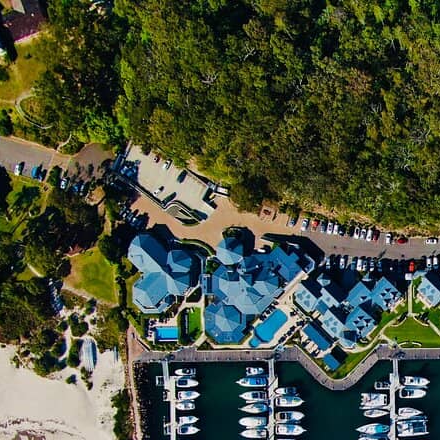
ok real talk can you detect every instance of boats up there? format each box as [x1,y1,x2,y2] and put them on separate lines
[402,376,431,386]
[276,396,305,407]
[238,418,268,427]
[397,421,428,436]
[179,416,198,424]
[399,389,427,398]
[174,368,197,375]
[360,393,387,406]
[355,423,390,434]
[398,407,423,417]
[177,391,200,399]
[275,424,307,435]
[246,367,262,375]
[238,391,269,400]
[238,403,269,413]
[175,403,196,410]
[177,426,201,434]
[275,412,304,423]
[364,409,389,418]
[274,388,300,396]
[375,381,390,389]
[239,429,268,438]
[235,377,268,387]
[177,379,198,388]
